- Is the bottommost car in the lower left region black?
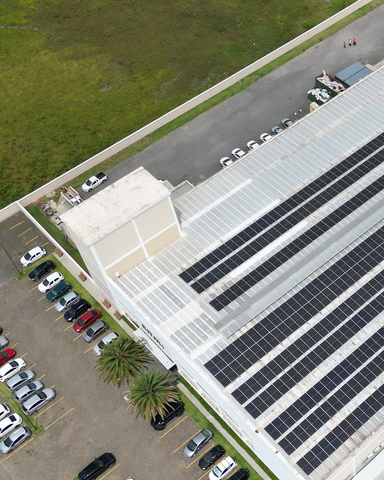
Yes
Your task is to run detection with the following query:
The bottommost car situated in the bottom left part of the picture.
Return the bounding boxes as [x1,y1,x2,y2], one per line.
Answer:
[77,452,114,480]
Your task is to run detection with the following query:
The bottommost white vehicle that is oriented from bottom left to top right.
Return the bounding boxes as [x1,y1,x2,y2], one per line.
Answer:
[206,455,239,480]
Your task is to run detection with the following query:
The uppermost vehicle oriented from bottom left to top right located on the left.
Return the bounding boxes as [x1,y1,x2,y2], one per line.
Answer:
[82,172,110,193]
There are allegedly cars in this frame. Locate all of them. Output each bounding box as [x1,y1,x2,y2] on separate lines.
[0,347,20,368]
[0,355,29,382]
[77,452,114,480]
[258,133,271,142]
[13,382,45,407]
[227,466,253,480]
[196,443,226,473]
[0,413,23,441]
[20,247,45,268]
[46,280,73,302]
[21,389,57,418]
[181,429,213,459]
[269,125,283,134]
[71,308,103,333]
[246,140,259,150]
[232,149,244,158]
[220,157,233,166]
[38,272,65,293]
[82,318,112,343]
[206,455,239,480]
[0,336,12,352]
[28,258,59,283]
[0,426,32,455]
[92,331,118,355]
[281,118,294,127]
[62,298,93,324]
[0,403,14,421]
[54,290,83,313]
[5,370,37,395]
